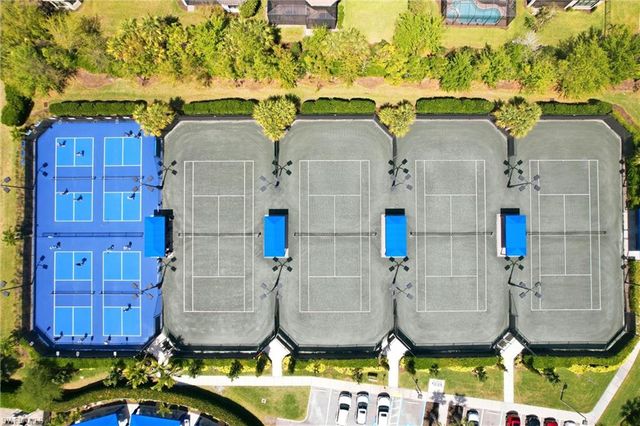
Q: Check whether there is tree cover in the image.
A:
Yes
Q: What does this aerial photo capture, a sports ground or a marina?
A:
sports ground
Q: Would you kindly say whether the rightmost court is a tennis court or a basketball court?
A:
tennis court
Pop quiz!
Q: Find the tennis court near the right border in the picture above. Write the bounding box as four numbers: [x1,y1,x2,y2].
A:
[509,121,625,349]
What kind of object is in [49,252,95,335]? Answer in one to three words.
sports court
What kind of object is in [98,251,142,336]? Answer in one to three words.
sports court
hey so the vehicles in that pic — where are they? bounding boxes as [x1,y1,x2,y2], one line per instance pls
[506,414,522,426]
[356,394,371,426]
[466,412,482,426]
[376,395,392,426]
[544,420,558,426]
[526,418,540,426]
[337,394,352,426]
